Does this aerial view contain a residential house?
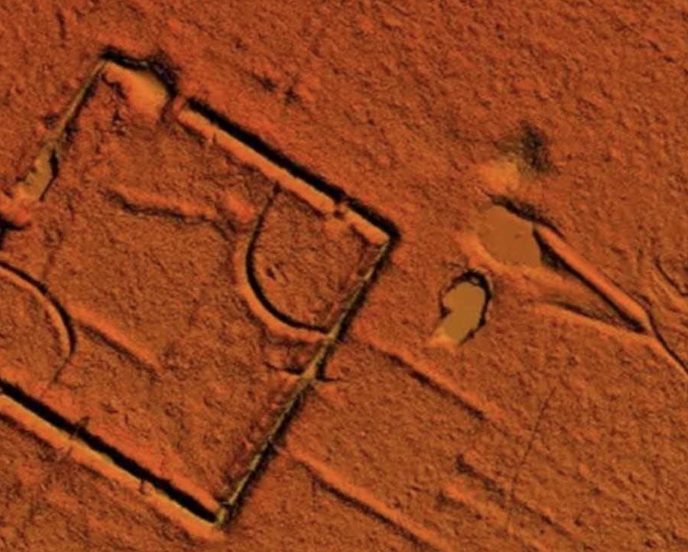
No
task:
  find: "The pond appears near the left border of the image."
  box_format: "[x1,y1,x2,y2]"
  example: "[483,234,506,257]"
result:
[20,141,58,204]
